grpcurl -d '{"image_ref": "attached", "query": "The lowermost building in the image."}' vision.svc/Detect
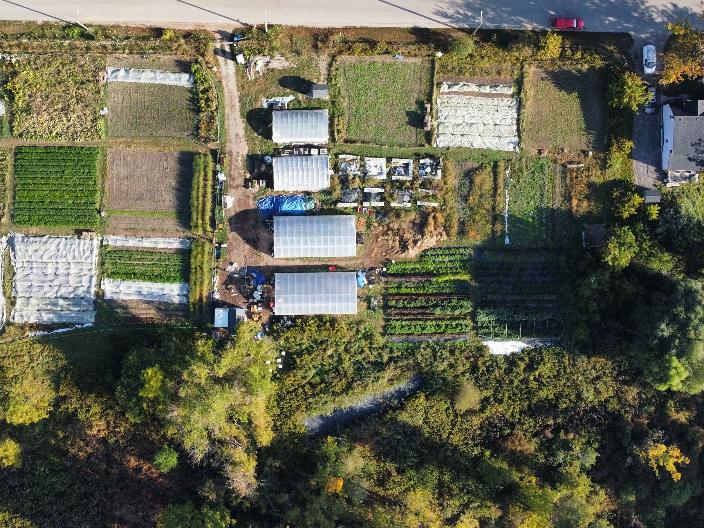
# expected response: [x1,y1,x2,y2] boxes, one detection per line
[214,306,229,326]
